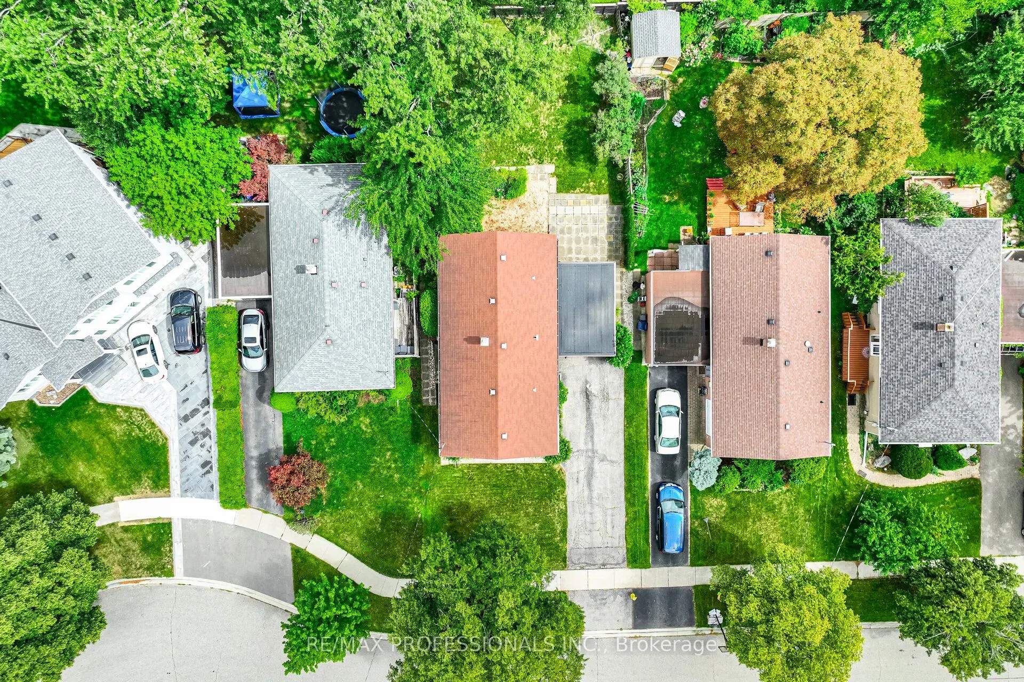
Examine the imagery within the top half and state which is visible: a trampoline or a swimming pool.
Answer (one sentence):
Looking within the top half, you will find a trampoline.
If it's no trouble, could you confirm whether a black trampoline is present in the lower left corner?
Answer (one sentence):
No, in the lower left corner there is no black trampoline.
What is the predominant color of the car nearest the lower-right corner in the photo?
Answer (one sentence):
The color of the car nearest the lower-right corner is blue.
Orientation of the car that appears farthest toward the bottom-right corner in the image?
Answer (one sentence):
In this picture, the car that appears farthest toward the bottom-right corner lies up and down.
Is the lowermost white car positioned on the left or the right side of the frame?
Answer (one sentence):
You can find the lowermost white car on the right side of the picture.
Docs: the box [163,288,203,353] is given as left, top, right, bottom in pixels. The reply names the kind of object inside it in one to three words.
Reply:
car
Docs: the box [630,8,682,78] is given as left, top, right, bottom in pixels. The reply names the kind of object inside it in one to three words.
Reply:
shed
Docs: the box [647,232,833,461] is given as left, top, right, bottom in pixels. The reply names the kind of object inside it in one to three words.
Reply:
house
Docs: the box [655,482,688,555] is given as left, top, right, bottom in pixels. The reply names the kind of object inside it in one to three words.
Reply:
car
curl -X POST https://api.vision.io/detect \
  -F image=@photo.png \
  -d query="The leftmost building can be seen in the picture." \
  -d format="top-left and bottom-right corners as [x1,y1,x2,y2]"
[0,128,193,409]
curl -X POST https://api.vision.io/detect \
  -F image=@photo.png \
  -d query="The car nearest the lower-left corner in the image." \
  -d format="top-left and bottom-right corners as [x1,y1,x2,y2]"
[122,317,167,384]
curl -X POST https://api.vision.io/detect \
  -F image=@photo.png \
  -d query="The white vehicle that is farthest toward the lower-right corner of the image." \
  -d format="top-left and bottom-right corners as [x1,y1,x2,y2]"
[654,388,685,455]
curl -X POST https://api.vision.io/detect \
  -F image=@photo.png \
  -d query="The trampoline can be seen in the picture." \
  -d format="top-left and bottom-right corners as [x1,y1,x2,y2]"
[318,78,367,138]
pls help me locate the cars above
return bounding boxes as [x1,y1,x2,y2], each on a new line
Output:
[655,482,688,555]
[654,388,685,455]
[163,288,203,353]
[122,317,167,384]
[234,308,267,372]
